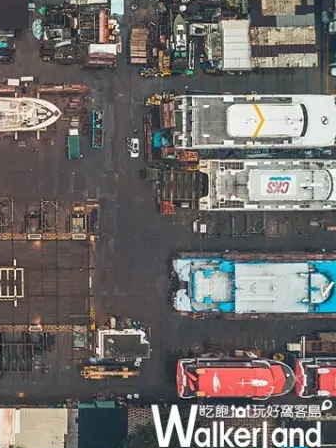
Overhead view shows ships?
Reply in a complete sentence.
Yes, the photo shows a ship.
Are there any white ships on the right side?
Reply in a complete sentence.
Yes, on the right side there is a white ship.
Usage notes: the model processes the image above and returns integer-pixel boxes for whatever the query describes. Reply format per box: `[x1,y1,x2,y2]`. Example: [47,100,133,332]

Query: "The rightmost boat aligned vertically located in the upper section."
[173,14,186,51]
